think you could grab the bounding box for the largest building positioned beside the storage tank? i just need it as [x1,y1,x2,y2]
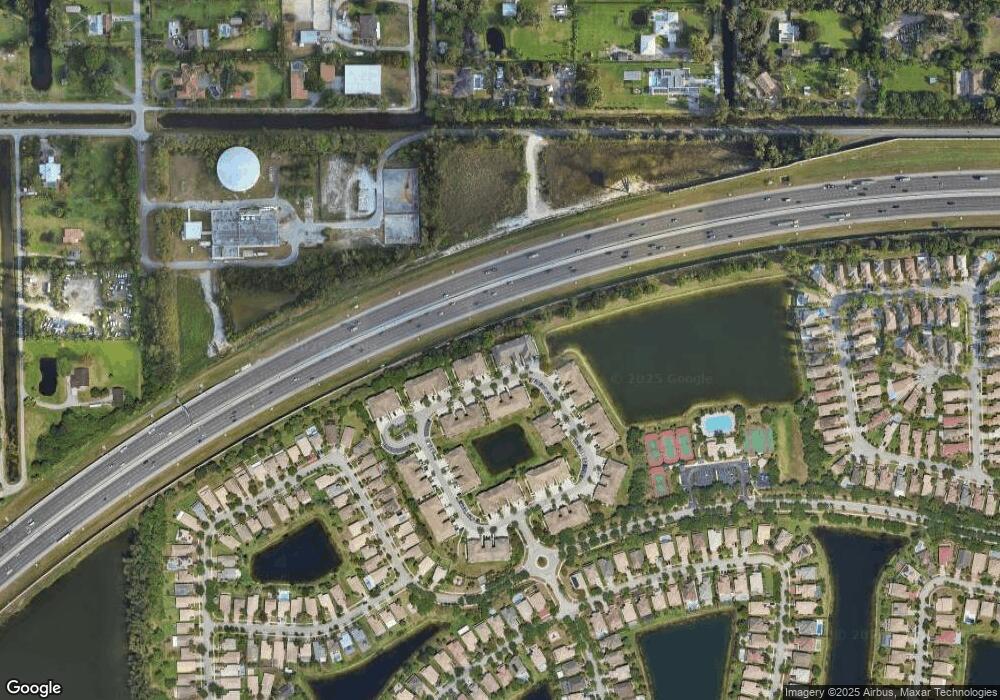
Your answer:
[211,210,278,258]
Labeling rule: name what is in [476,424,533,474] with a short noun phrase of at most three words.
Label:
pond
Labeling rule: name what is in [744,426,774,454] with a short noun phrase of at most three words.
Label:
basketball court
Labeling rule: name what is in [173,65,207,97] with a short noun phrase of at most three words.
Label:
house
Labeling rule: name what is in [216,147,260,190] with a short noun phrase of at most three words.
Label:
storage tank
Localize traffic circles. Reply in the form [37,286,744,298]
[527,548,556,576]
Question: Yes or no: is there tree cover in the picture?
Yes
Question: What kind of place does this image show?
residential area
